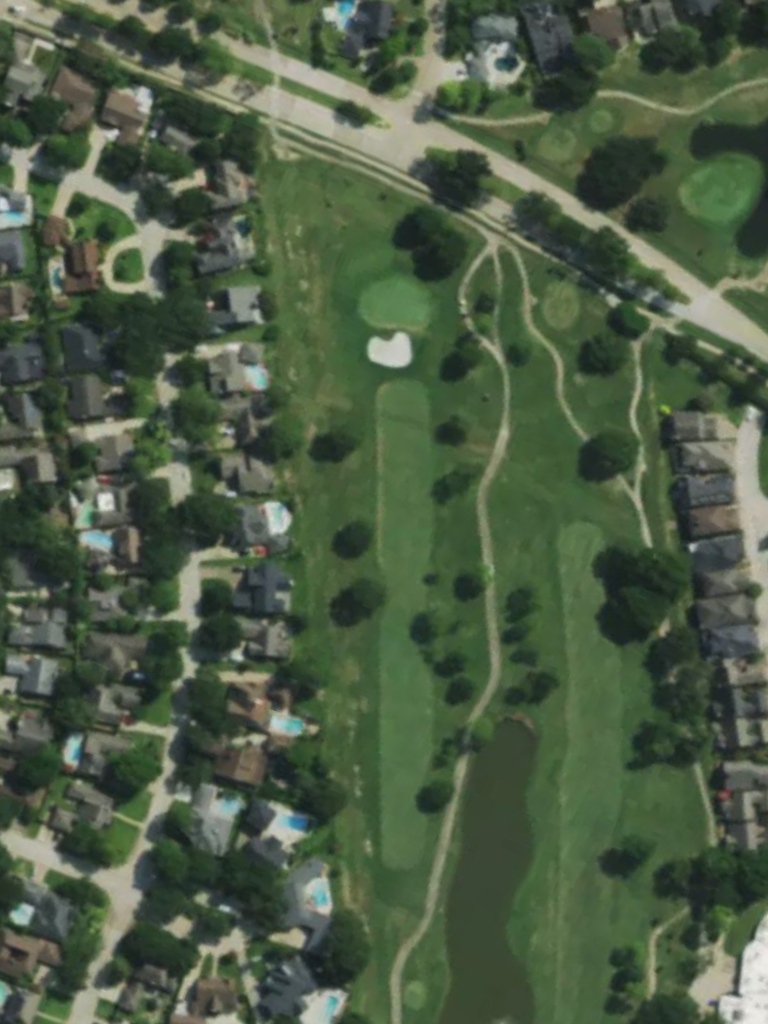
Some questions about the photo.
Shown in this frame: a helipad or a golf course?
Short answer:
golf course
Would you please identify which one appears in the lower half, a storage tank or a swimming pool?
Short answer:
swimming pool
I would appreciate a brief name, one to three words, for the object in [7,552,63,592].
house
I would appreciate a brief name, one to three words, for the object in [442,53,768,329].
golf course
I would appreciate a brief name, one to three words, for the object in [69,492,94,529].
swimming pool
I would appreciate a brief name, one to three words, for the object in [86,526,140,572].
house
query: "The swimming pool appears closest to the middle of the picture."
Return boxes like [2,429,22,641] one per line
[267,501,292,531]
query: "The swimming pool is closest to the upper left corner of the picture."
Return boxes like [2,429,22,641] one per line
[0,193,33,229]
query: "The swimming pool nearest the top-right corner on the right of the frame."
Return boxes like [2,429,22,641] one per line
[486,42,522,89]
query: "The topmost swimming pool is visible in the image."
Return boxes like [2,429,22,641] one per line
[323,0,358,31]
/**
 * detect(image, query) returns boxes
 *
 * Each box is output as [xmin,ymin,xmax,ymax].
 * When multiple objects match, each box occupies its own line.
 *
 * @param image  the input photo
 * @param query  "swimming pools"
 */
[69,492,94,529]
[323,0,358,31]
[11,902,33,926]
[79,529,111,551]
[309,877,333,914]
[49,257,65,294]
[263,802,310,852]
[242,364,270,391]
[0,193,33,229]
[267,501,292,531]
[270,711,315,736]
[486,42,522,89]
[219,794,245,819]
[300,988,348,1024]
[64,732,84,767]
[233,214,255,260]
